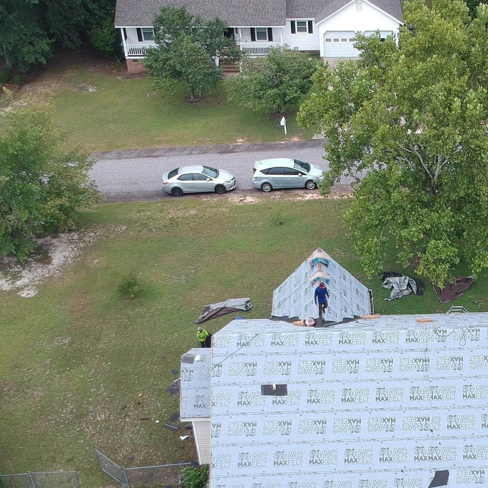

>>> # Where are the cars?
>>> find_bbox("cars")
[252,159,319,191]
[160,166,236,196]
